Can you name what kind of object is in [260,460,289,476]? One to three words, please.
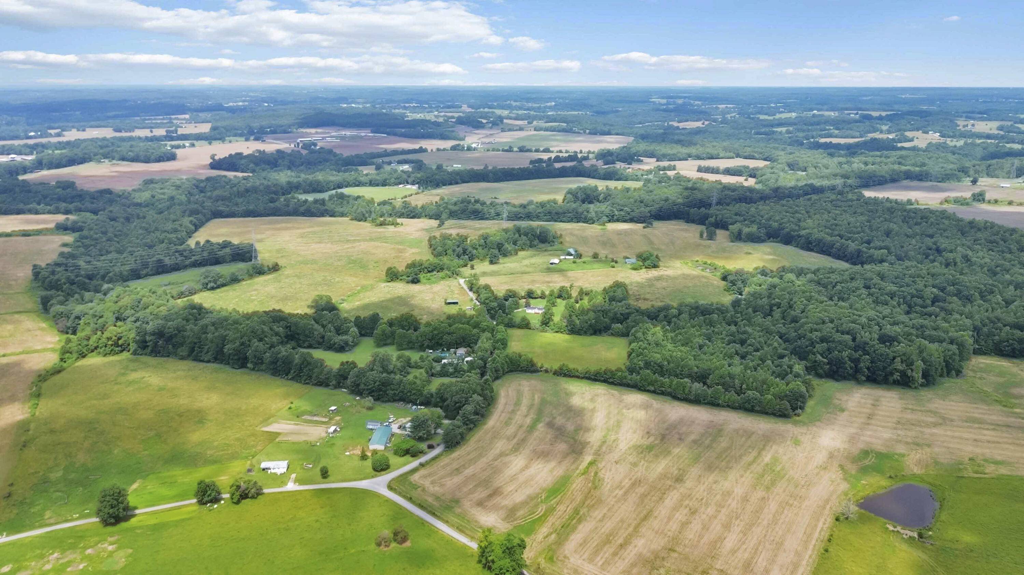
building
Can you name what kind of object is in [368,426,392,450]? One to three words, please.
building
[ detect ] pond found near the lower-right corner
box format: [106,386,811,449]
[856,483,940,527]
